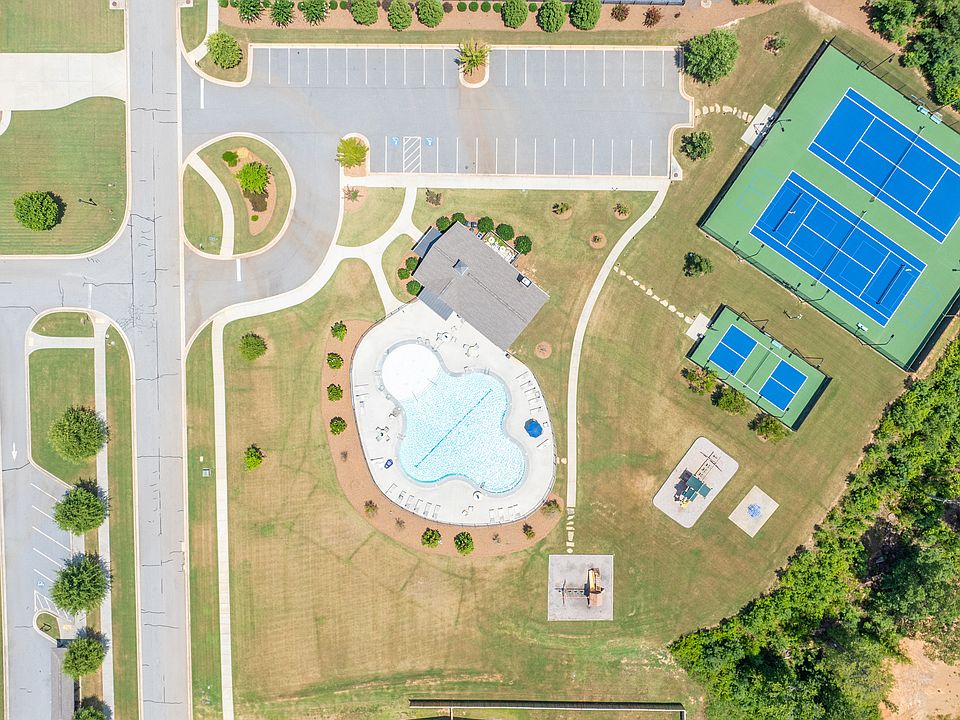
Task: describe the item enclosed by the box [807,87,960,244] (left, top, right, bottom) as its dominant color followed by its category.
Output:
blue tennis court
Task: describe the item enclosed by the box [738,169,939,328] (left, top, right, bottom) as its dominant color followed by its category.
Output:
blue tennis court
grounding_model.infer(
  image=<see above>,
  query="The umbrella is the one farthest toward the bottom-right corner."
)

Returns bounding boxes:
[525,419,543,437]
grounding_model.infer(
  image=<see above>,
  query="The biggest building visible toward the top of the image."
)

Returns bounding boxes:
[412,220,549,352]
